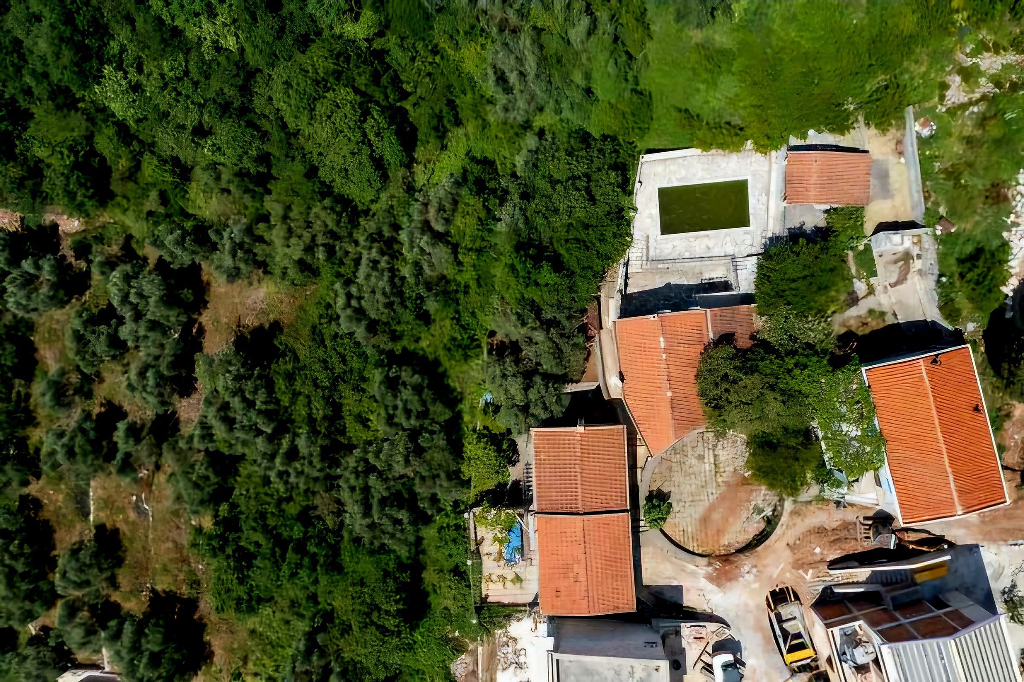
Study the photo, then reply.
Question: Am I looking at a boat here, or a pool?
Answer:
pool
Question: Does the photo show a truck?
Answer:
Yes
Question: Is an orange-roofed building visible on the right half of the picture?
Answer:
Yes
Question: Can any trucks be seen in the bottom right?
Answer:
Yes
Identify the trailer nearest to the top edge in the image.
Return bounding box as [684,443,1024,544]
[861,515,889,549]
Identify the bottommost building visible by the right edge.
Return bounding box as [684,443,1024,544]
[810,587,1024,682]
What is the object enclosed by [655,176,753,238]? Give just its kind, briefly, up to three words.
swimming pool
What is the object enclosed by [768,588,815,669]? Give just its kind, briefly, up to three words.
truck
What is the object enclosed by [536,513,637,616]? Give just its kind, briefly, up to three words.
house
